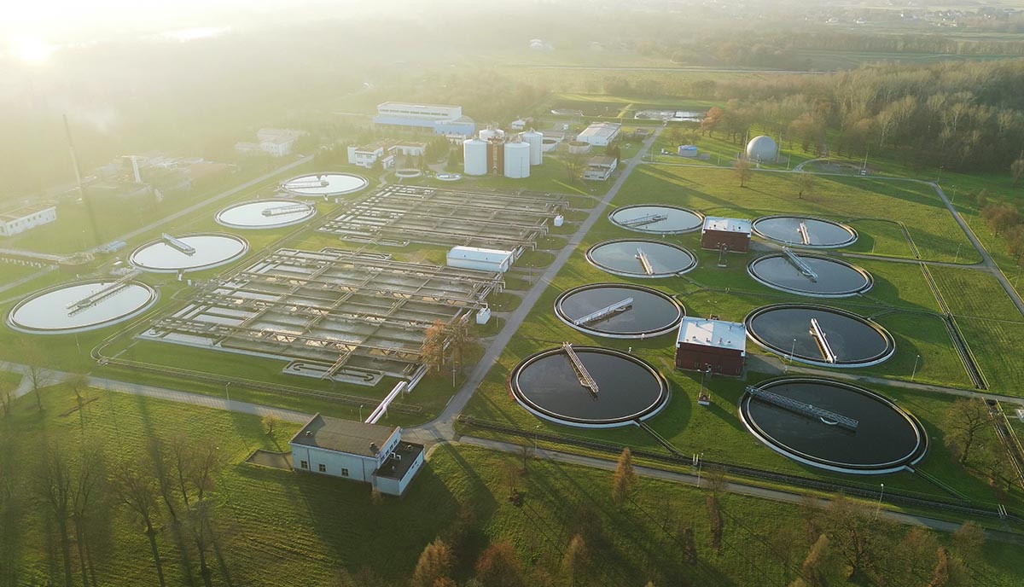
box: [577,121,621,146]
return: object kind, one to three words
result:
building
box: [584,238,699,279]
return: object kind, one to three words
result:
storage tank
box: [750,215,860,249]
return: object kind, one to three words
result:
storage tank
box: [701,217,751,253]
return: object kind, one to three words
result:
house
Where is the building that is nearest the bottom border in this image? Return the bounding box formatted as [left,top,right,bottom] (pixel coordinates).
[286,409,425,496]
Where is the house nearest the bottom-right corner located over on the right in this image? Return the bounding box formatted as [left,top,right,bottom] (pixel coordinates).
[675,317,746,378]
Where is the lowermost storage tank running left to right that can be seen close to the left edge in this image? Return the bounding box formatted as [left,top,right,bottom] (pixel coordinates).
[7,278,162,334]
